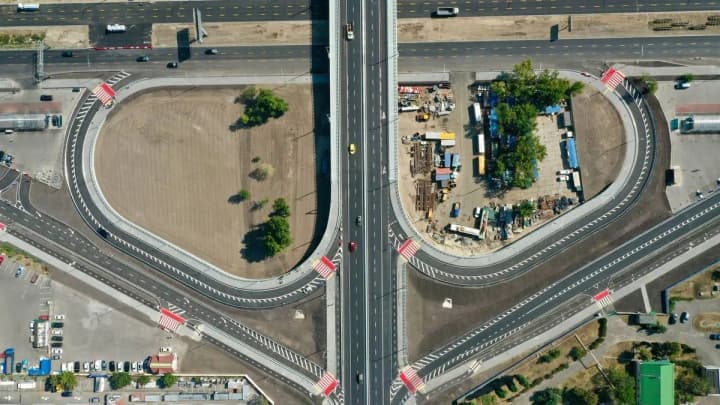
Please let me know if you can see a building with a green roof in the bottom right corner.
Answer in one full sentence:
Yes, a building with a green roof can be seen in the bottom right corner.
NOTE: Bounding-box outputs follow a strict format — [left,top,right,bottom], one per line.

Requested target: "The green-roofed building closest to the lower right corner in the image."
[634,360,674,405]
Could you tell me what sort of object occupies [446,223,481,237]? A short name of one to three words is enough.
vehicle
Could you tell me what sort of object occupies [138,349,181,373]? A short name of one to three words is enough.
building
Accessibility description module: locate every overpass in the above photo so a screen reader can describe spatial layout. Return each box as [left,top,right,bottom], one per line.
[326,0,417,405]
